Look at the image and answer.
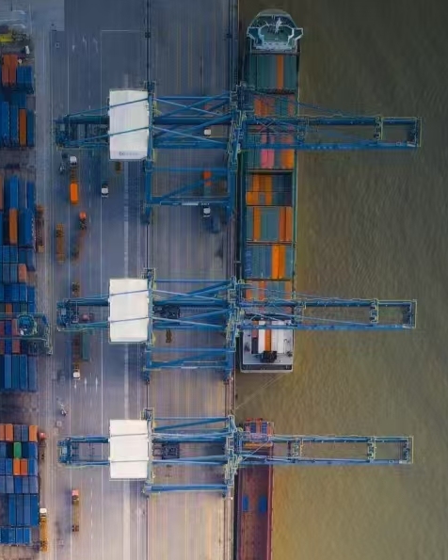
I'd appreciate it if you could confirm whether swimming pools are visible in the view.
No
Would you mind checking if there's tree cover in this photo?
No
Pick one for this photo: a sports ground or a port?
port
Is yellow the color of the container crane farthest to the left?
No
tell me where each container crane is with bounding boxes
[56,267,420,387]
[58,406,417,508]
[0,311,52,364]
[55,67,422,226]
